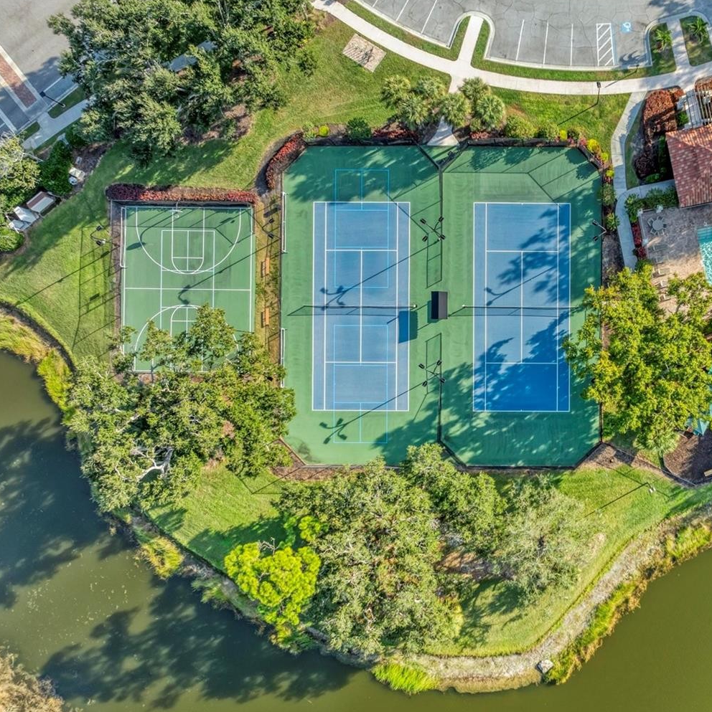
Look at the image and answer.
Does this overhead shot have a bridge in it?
No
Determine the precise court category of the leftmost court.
basketball court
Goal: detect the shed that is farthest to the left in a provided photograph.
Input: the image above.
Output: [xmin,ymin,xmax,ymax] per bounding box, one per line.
[22,191,53,212]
